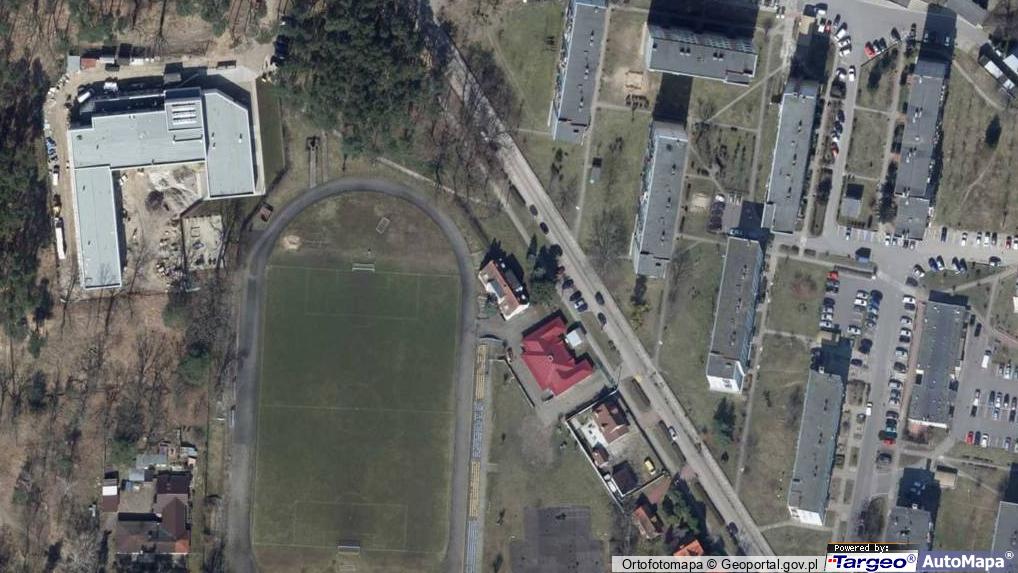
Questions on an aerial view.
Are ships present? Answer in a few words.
No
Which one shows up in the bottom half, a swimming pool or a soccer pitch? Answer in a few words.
soccer pitch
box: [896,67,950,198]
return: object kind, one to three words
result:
building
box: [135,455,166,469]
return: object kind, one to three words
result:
shed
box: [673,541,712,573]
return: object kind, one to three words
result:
house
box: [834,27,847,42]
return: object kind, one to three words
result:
vehicle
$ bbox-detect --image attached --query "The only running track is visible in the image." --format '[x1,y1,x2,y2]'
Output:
[224,177,477,573]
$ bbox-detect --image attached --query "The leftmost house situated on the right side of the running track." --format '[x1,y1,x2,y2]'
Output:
[479,263,530,318]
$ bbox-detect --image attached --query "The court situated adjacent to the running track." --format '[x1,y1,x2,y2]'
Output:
[509,506,605,573]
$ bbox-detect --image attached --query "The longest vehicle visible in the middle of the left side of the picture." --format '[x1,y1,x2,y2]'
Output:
[54,220,68,262]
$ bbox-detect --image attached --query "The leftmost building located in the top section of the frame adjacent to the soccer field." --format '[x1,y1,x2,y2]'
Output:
[67,87,254,288]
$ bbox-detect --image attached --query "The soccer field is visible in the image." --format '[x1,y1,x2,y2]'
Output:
[253,266,459,553]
